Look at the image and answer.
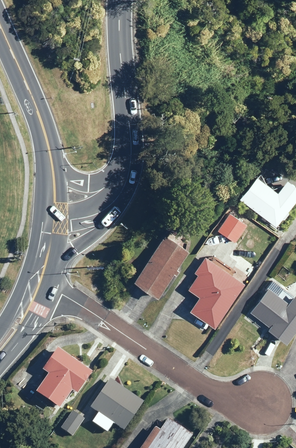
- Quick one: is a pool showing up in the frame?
No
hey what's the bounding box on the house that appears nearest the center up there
[134,238,188,299]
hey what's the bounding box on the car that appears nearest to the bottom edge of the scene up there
[196,394,212,406]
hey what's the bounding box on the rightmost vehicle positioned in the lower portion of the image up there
[263,341,276,357]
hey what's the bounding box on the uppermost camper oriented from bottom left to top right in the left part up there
[98,205,122,228]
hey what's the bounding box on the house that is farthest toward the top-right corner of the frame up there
[240,176,296,228]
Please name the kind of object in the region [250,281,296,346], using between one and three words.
house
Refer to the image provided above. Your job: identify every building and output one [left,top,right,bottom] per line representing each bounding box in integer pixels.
[240,176,296,228]
[188,258,245,330]
[218,214,246,243]
[134,238,188,299]
[250,281,296,346]
[90,378,144,432]
[60,410,84,436]
[36,346,92,406]
[141,418,192,448]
